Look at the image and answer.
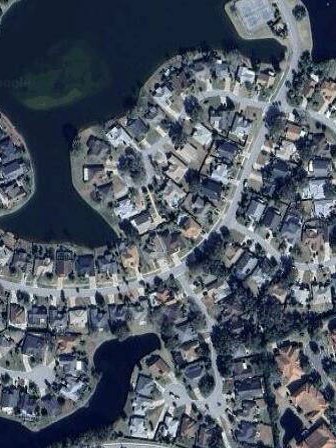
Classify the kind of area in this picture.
residential area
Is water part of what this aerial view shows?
Yes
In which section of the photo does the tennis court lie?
top right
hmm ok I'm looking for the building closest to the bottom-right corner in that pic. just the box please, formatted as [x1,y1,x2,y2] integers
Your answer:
[296,422,336,448]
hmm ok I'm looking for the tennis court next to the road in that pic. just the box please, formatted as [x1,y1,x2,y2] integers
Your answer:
[231,0,275,36]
